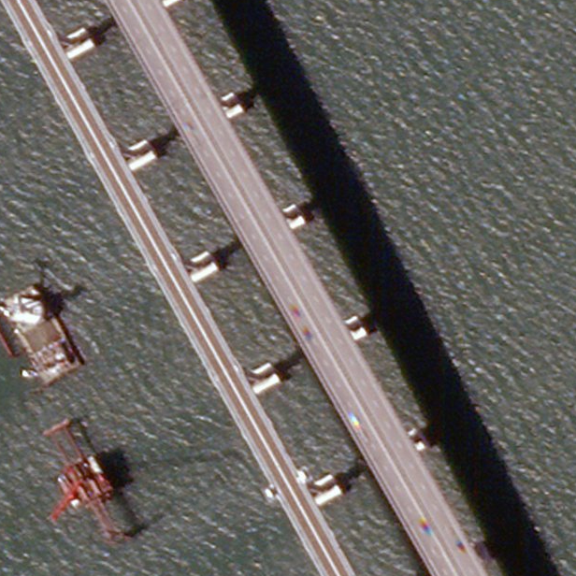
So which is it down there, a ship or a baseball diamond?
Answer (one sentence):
I can see a ship in this picture.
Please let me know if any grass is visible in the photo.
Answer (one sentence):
No, there is no grass in the image.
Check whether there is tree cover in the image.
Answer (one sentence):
No, no tree cover is visible.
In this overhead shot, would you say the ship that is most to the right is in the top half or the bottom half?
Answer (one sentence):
The bottom half of the photo is where the ship that is most to the right is.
